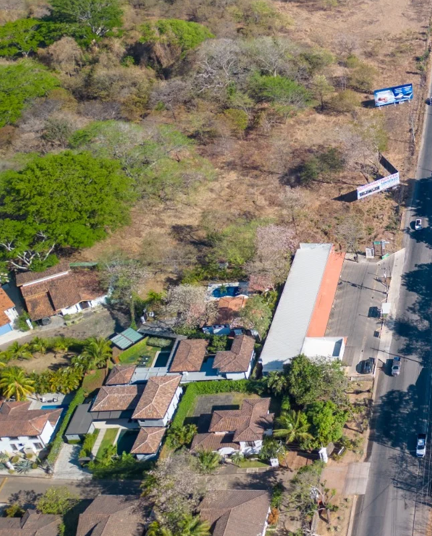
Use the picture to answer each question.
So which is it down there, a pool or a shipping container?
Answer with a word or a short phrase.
pool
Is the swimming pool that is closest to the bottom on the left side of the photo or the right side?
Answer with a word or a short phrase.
left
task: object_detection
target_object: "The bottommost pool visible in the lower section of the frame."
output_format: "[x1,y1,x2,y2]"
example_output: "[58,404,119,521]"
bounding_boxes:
[115,429,141,455]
